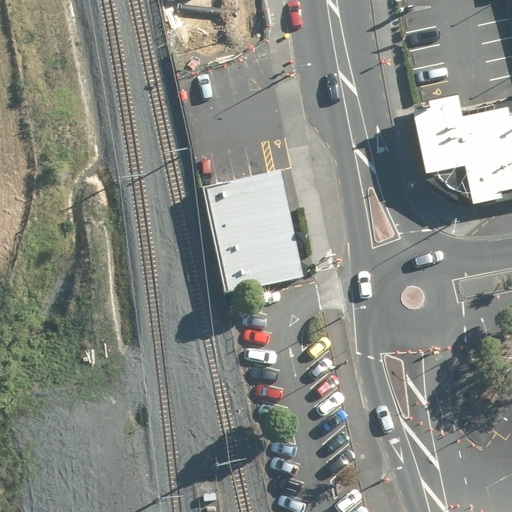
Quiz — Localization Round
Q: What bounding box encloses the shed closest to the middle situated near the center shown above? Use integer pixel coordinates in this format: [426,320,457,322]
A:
[204,171,310,294]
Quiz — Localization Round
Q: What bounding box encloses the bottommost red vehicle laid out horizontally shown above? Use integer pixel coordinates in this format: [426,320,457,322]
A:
[254,386,284,400]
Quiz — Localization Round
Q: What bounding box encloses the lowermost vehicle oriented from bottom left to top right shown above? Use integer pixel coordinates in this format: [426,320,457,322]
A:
[333,488,364,512]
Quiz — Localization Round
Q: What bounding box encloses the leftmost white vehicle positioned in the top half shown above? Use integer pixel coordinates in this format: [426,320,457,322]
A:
[197,73,213,100]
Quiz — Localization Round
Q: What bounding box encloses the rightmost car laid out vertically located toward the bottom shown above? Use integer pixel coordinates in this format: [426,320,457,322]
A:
[377,404,394,435]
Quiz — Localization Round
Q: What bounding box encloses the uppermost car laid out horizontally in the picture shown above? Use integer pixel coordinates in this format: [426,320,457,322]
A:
[406,30,440,46]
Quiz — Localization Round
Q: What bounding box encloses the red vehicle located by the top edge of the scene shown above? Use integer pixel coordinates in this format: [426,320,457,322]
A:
[287,0,302,28]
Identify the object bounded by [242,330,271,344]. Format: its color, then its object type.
red car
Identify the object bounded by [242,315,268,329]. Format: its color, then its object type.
gray car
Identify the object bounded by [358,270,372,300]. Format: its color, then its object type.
white car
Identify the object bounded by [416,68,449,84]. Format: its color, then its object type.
white car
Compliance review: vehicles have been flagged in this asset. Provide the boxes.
[358,270,372,300]
[377,404,394,435]
[242,315,268,329]
[416,68,449,84]
[287,0,302,28]
[308,356,334,380]
[270,443,298,457]
[406,30,440,46]
[277,494,308,512]
[306,336,332,360]
[326,73,340,102]
[200,159,214,184]
[333,488,364,512]
[244,348,278,365]
[324,428,350,454]
[414,250,445,266]
[254,386,284,400]
[257,404,285,417]
[264,291,282,305]
[316,391,346,417]
[327,448,356,476]
[249,368,278,383]
[314,374,341,398]
[270,458,300,476]
[354,504,370,512]
[197,73,213,100]
[242,330,271,344]
[318,409,348,435]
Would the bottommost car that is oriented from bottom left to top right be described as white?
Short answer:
Yes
